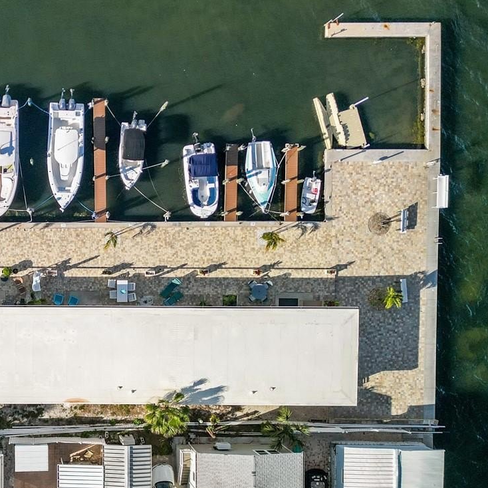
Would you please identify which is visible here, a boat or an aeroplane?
boat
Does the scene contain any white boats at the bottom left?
No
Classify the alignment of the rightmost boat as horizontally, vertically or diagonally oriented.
vertically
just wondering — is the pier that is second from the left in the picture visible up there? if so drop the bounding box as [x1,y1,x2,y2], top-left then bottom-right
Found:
[224,143,238,221]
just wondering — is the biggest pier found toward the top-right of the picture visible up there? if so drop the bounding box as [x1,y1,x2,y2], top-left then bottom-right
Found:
[321,23,440,150]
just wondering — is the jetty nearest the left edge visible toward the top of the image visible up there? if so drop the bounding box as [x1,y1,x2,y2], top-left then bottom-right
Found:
[93,98,107,221]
